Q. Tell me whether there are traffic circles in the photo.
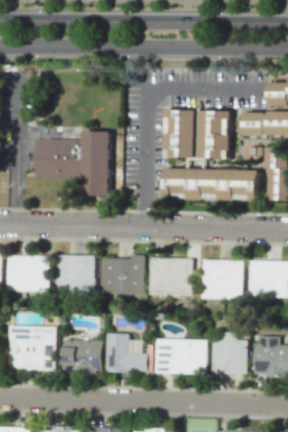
No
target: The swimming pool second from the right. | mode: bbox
[113,314,147,334]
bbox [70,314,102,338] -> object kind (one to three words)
swimming pool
